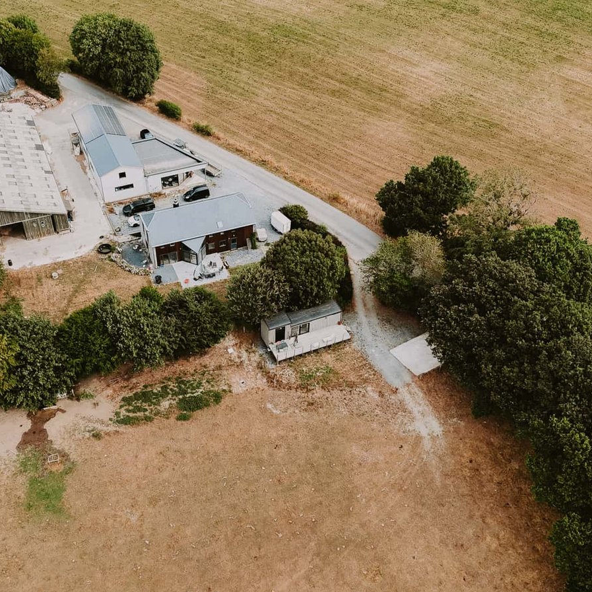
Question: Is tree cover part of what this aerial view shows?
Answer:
Yes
